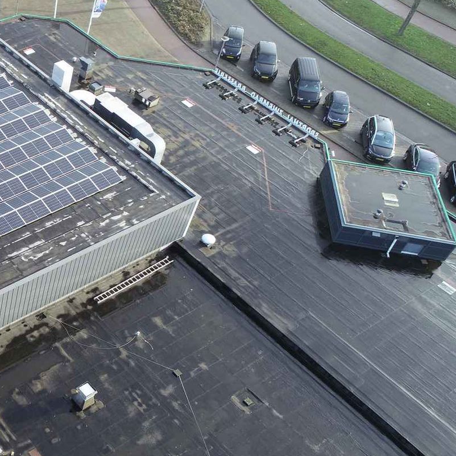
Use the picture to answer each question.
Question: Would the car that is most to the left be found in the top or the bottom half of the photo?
top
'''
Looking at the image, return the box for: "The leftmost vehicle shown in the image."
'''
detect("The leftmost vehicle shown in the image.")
[218,20,246,60]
